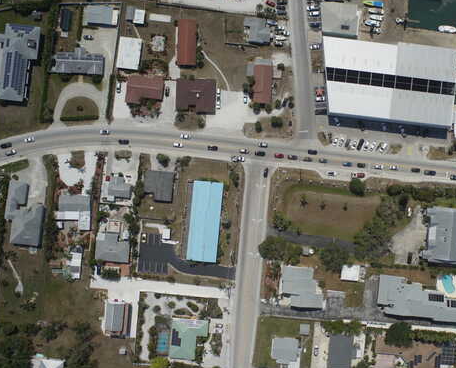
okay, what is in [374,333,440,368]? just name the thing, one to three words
house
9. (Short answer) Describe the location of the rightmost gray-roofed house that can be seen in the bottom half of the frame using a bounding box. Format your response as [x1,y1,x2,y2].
[424,206,456,264]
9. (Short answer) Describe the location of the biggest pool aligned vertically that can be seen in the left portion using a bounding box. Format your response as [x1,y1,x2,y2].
[154,321,170,357]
